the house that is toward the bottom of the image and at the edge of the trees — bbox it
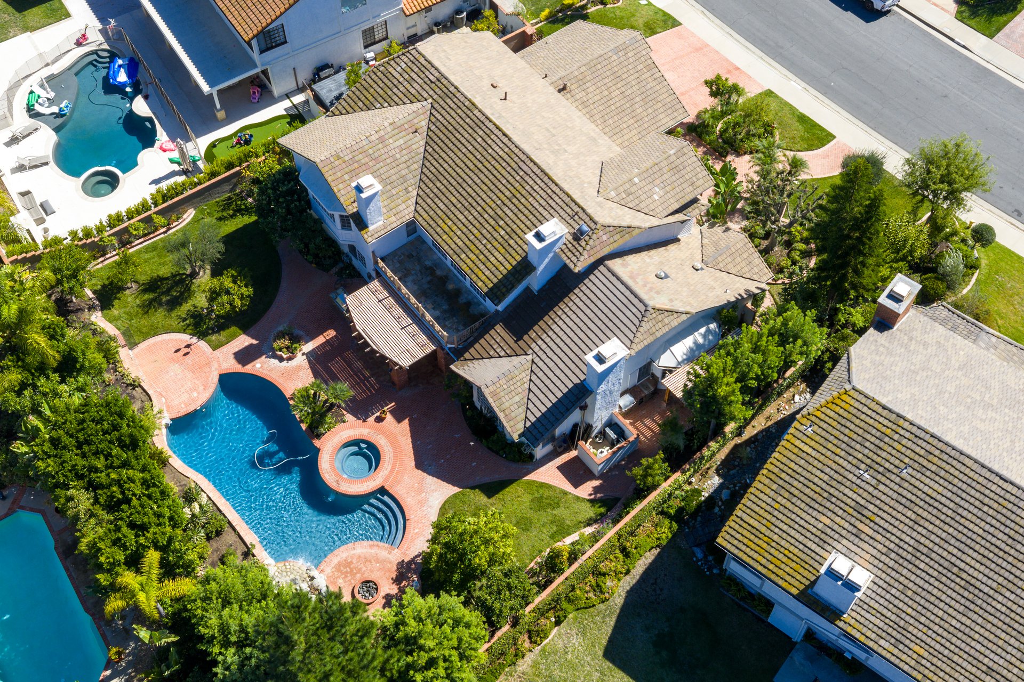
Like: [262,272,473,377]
[713,273,1024,682]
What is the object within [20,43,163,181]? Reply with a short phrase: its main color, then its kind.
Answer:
blue swimming pool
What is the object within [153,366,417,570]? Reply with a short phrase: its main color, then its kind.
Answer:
blue swimming pool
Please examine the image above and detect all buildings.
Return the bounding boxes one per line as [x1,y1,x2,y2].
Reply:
[278,22,774,461]
[713,273,1024,682]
